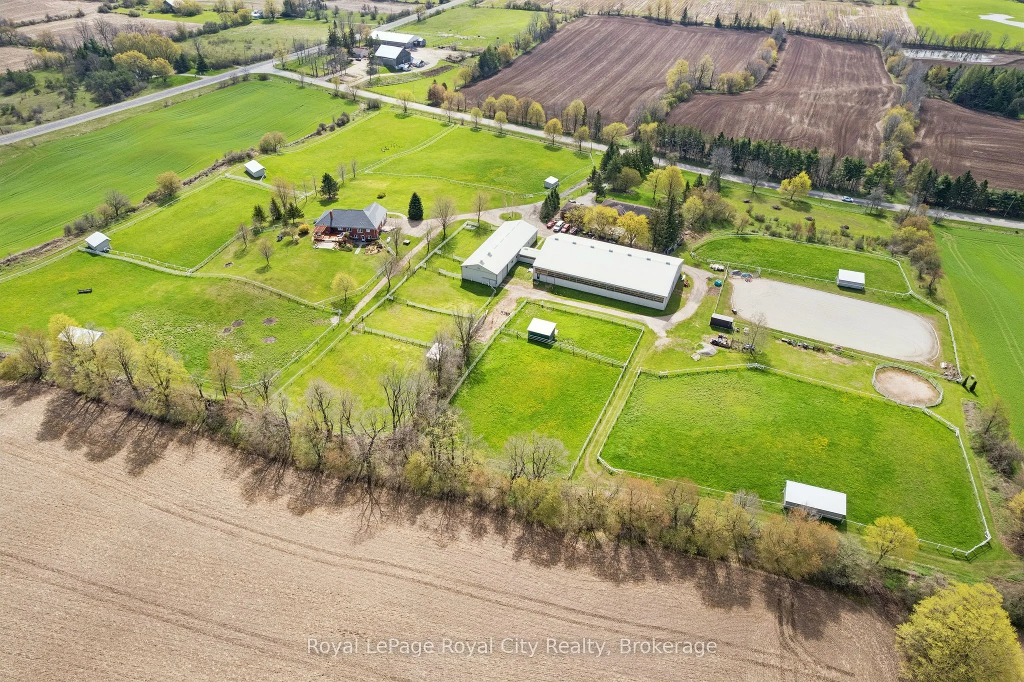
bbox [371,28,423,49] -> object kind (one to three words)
barn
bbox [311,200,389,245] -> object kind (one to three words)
house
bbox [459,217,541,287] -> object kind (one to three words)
barn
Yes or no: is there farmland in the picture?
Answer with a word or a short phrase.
Yes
